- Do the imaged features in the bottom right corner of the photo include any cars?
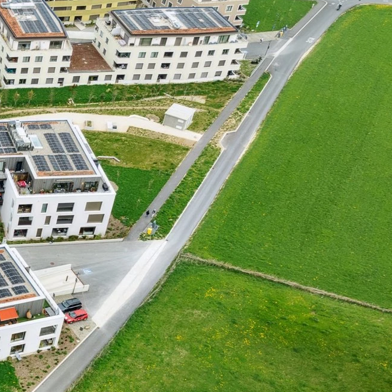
No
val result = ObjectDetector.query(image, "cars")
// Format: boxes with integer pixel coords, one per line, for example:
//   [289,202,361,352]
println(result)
[56,294,85,313]
[64,307,91,323]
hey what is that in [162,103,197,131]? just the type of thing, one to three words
building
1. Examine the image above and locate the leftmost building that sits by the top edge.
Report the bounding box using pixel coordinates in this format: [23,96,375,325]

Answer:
[0,0,72,89]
